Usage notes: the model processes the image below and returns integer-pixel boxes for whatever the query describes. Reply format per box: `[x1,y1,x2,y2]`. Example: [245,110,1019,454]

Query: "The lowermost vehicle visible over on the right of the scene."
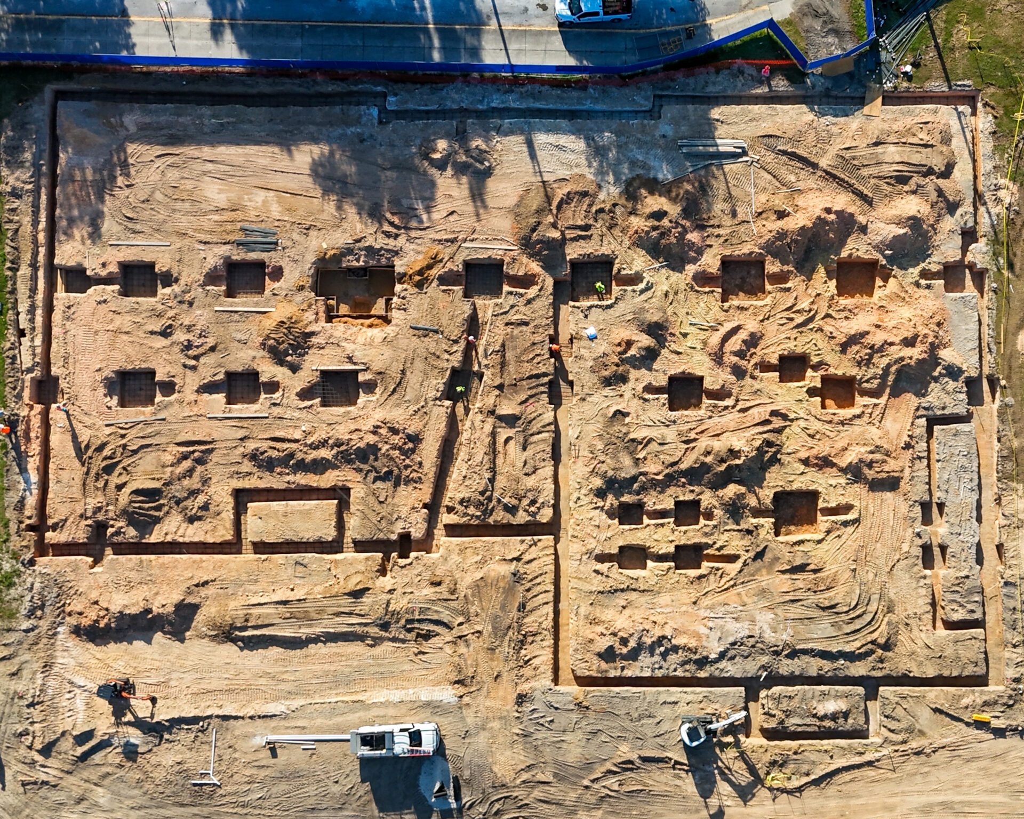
[681,708,749,746]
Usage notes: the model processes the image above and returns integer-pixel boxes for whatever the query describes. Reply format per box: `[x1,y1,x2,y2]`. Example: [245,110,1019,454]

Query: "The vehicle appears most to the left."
[95,678,156,706]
